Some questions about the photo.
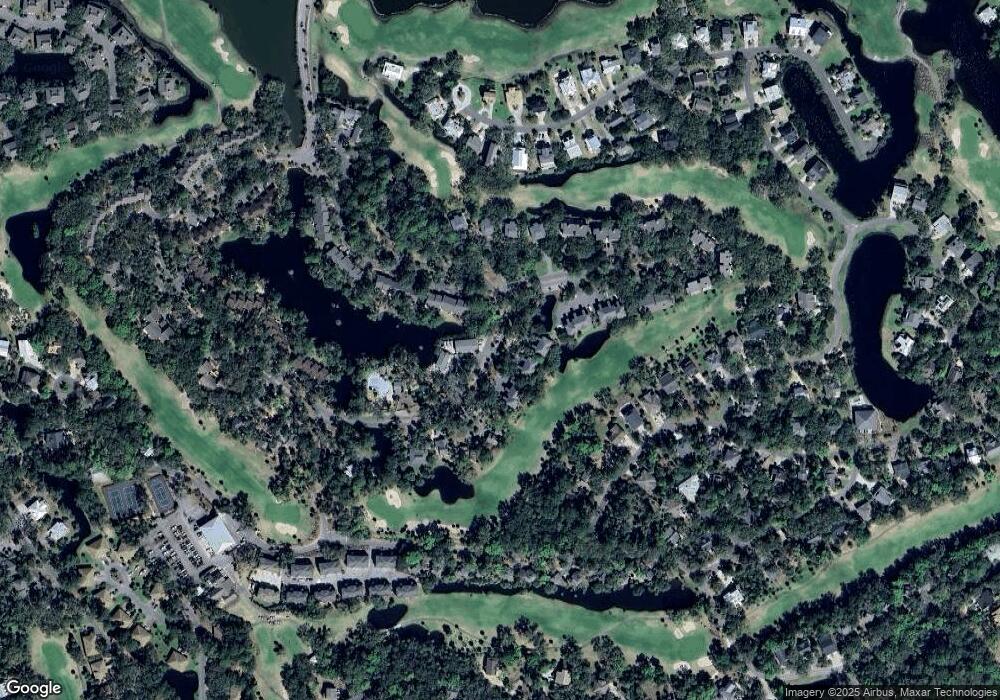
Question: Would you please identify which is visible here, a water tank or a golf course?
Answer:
golf course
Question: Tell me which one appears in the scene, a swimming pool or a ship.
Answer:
swimming pool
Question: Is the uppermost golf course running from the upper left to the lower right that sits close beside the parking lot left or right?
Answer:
left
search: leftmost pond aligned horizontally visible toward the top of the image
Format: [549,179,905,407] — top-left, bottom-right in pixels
[1,53,75,82]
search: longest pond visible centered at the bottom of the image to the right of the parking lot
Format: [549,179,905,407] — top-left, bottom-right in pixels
[427,582,696,611]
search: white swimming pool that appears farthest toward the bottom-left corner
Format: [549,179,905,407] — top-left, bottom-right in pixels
[366,370,396,402]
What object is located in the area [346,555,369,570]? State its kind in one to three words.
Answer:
building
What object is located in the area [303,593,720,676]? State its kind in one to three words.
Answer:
golf course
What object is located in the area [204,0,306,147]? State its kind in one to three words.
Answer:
pond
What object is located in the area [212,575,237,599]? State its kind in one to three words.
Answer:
house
